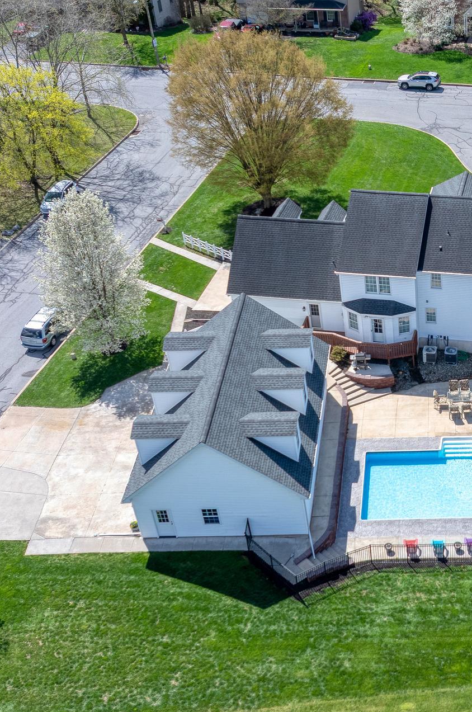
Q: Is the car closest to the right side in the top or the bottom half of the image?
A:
top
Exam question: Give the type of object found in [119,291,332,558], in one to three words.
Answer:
building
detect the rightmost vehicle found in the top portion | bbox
[396,68,442,91]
